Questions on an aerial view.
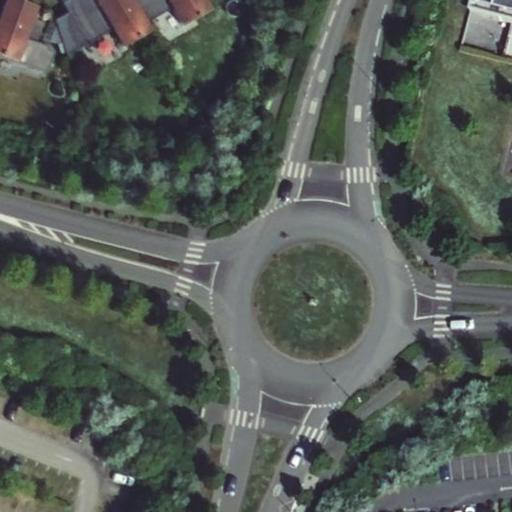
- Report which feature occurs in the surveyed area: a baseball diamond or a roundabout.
roundabout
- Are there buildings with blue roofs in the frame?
No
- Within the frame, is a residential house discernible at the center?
No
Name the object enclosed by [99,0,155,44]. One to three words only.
house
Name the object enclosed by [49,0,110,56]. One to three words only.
house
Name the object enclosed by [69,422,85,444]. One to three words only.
car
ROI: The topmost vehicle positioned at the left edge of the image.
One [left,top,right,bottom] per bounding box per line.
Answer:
[2,402,16,422]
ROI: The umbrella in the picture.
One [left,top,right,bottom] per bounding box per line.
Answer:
[98,40,112,53]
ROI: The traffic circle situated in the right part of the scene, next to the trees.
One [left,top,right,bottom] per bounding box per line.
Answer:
[218,205,410,397]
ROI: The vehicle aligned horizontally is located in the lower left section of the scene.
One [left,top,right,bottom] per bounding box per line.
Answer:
[112,473,136,486]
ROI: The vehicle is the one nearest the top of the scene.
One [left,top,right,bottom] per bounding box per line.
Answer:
[279,179,292,200]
